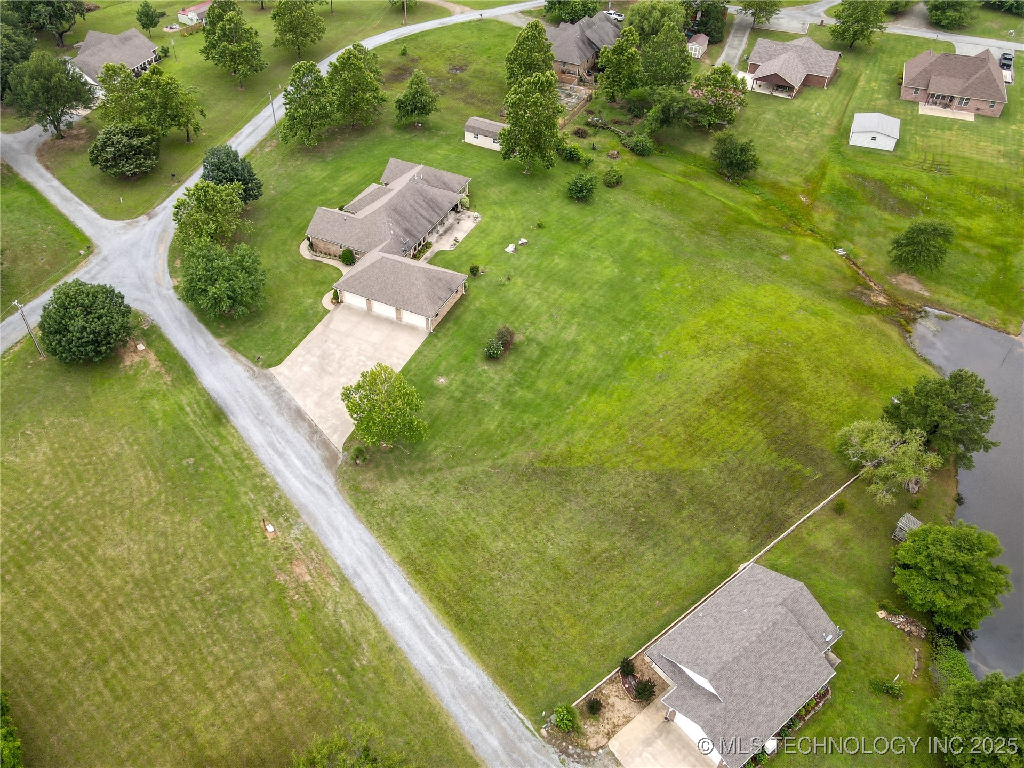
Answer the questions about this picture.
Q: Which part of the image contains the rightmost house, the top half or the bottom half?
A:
top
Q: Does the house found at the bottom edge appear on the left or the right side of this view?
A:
right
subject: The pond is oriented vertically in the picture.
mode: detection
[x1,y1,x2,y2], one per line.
[907,308,1024,685]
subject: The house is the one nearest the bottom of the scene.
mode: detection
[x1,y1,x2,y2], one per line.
[644,563,841,768]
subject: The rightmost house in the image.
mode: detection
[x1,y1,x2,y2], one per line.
[900,49,1008,118]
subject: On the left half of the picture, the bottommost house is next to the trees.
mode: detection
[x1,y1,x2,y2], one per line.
[305,157,472,336]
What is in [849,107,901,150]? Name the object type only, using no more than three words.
shed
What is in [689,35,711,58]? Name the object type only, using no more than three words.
shed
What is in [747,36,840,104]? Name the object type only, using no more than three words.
house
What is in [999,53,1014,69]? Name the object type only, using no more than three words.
vehicle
